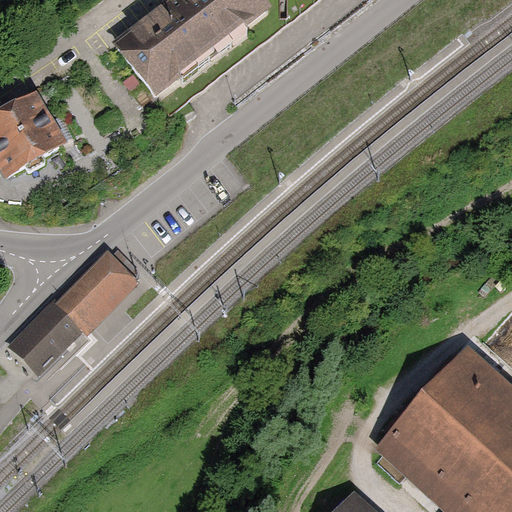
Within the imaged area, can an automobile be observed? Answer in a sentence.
Yes, the picture does show an automobile.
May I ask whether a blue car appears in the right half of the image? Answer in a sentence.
No, there's no blue car to be seen in the right half of the image.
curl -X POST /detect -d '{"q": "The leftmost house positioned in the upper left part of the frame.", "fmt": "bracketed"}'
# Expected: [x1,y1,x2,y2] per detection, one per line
[0,90,68,180]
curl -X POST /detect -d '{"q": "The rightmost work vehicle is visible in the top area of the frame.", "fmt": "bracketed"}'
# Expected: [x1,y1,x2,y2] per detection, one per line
[204,176,231,202]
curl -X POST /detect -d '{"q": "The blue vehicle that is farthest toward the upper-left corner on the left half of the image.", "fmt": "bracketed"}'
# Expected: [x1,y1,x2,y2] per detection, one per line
[163,210,181,233]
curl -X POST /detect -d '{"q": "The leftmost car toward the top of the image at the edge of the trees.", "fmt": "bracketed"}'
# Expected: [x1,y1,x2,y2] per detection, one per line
[56,48,78,66]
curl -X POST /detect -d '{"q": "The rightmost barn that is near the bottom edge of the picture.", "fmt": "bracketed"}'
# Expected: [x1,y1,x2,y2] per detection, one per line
[376,336,512,512]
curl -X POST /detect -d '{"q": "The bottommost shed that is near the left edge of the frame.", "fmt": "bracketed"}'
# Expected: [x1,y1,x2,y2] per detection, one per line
[8,303,92,381]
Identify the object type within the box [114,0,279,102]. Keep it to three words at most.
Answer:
house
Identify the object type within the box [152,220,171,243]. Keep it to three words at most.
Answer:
car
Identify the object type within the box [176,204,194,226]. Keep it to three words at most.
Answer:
car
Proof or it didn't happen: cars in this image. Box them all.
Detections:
[56,48,78,66]
[163,210,181,233]
[152,220,171,243]
[176,204,194,226]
